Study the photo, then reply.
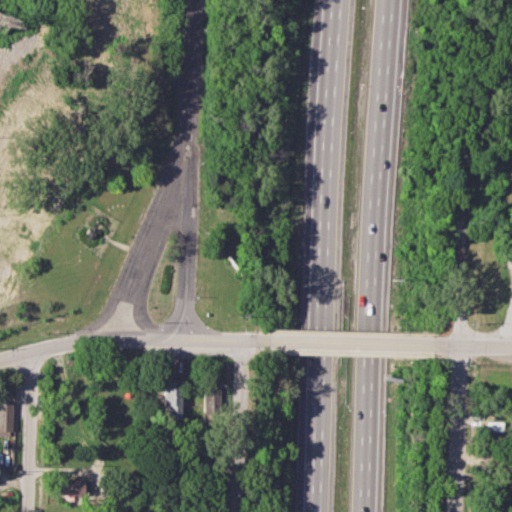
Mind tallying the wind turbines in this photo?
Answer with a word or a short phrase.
0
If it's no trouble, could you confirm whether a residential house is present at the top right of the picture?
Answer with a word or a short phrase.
No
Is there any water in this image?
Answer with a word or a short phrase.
No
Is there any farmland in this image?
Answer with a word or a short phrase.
No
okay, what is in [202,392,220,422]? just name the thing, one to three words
house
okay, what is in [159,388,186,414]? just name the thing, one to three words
house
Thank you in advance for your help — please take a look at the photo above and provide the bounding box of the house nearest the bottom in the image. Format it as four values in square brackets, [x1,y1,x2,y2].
[64,476,88,503]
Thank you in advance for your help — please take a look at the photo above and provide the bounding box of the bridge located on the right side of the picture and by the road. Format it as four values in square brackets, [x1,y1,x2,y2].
[270,330,438,358]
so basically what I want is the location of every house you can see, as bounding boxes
[159,388,186,414]
[486,420,506,432]
[0,404,16,438]
[64,476,88,503]
[202,392,220,422]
